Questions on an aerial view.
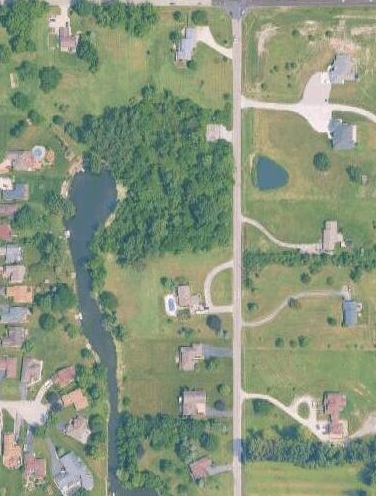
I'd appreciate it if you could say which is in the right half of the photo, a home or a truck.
home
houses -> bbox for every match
[329,393,346,436]
[184,393,207,415]
[51,449,96,496]
[64,387,90,412]
[52,365,77,388]
[3,326,26,346]
[0,201,19,212]
[2,184,29,200]
[25,452,47,479]
[1,307,29,323]
[7,149,31,169]
[4,265,25,282]
[8,286,32,302]
[331,58,360,84]
[4,434,22,468]
[0,356,18,378]
[64,413,92,441]
[323,221,339,250]
[181,345,205,369]
[181,26,196,60]
[344,301,357,327]
[188,458,213,482]
[179,286,200,308]
[60,26,77,51]
[0,245,21,263]
[0,224,12,240]
[22,357,41,385]
[207,124,222,141]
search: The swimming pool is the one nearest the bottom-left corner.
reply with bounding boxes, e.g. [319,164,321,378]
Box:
[165,293,178,314]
